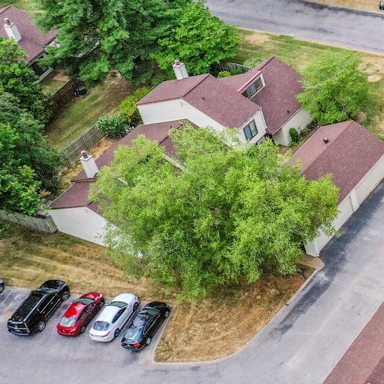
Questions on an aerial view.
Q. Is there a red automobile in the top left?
No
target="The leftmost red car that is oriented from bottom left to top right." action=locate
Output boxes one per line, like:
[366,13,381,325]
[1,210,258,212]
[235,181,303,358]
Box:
[54,295,105,339]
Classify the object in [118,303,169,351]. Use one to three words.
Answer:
car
